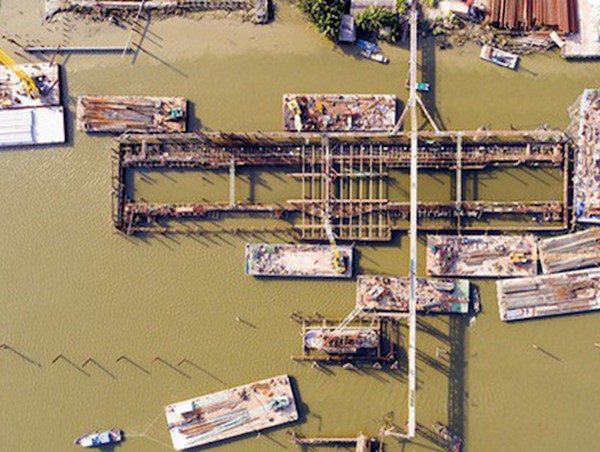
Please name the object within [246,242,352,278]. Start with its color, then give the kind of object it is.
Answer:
white ship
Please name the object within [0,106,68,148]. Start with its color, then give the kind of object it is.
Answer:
white ship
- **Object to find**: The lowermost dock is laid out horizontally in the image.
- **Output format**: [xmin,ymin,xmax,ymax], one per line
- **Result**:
[292,429,384,452]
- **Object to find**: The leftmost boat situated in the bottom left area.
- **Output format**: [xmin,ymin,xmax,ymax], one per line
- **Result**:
[74,429,124,447]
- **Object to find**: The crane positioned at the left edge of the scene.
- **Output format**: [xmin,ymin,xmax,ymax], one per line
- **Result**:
[0,53,45,103]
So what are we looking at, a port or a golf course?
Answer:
port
